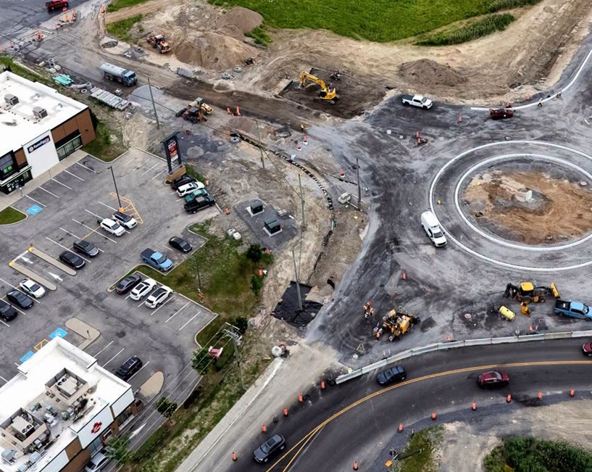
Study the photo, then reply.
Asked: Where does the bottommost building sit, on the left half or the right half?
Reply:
left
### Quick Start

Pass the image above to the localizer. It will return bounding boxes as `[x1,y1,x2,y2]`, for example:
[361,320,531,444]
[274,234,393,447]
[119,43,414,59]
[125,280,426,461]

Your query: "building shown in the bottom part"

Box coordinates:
[0,337,143,472]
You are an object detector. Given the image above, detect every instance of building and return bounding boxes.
[0,337,143,472]
[0,70,96,195]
